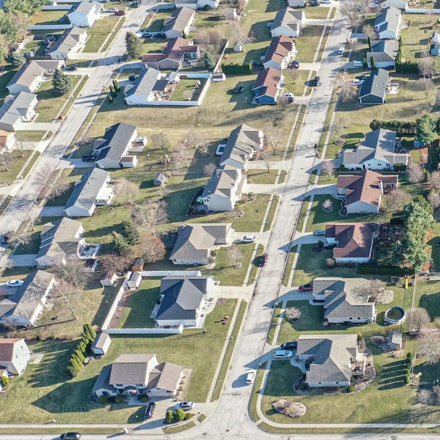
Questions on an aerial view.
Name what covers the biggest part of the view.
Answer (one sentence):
The largest share of the image is taken up by grass.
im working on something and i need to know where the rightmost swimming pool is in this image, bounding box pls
[384,306,406,324]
